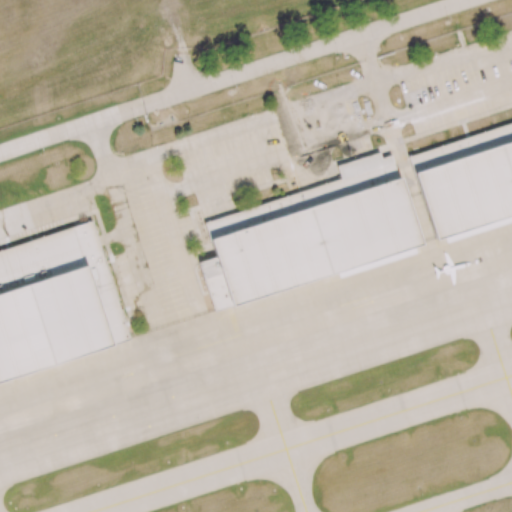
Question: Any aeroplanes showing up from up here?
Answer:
Yes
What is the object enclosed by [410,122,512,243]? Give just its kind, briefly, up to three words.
hangar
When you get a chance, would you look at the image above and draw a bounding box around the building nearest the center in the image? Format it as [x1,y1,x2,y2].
[200,150,425,310]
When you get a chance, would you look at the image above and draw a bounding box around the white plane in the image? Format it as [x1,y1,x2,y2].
[434,252,470,284]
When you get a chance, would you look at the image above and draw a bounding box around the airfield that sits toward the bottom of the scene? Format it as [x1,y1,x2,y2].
[0,223,512,512]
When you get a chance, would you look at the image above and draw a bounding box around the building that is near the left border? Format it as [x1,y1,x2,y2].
[0,220,130,382]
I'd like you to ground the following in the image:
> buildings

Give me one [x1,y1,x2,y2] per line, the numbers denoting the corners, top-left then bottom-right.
[410,122,512,243]
[200,150,425,310]
[0,220,130,382]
